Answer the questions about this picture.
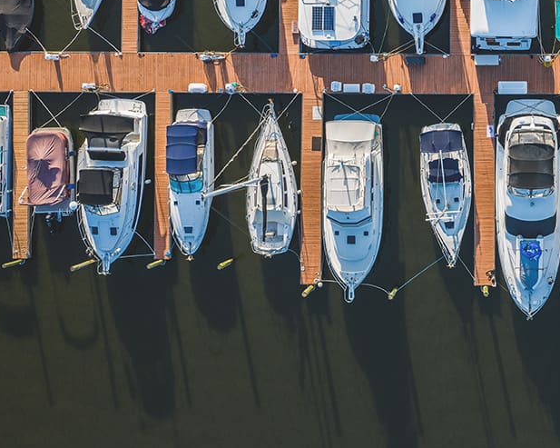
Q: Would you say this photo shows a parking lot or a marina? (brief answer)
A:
marina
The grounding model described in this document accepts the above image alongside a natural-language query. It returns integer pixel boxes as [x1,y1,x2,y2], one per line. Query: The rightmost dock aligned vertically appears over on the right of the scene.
[474,93,496,286]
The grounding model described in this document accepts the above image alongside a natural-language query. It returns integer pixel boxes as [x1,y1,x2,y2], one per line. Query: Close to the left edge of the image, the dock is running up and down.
[12,91,32,259]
